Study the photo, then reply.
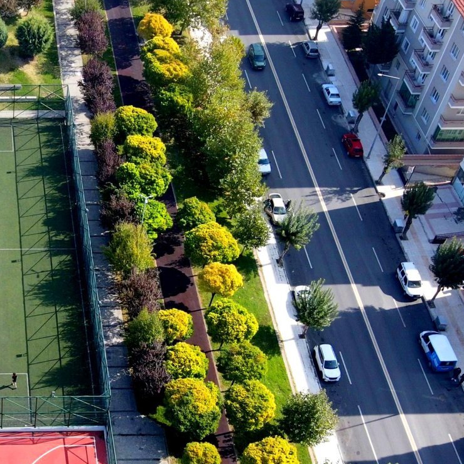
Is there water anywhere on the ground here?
No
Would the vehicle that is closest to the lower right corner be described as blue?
Yes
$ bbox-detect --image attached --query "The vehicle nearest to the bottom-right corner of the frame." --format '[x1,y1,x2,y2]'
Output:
[420,330,462,376]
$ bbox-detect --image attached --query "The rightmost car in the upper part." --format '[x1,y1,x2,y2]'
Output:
[339,137,365,161]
